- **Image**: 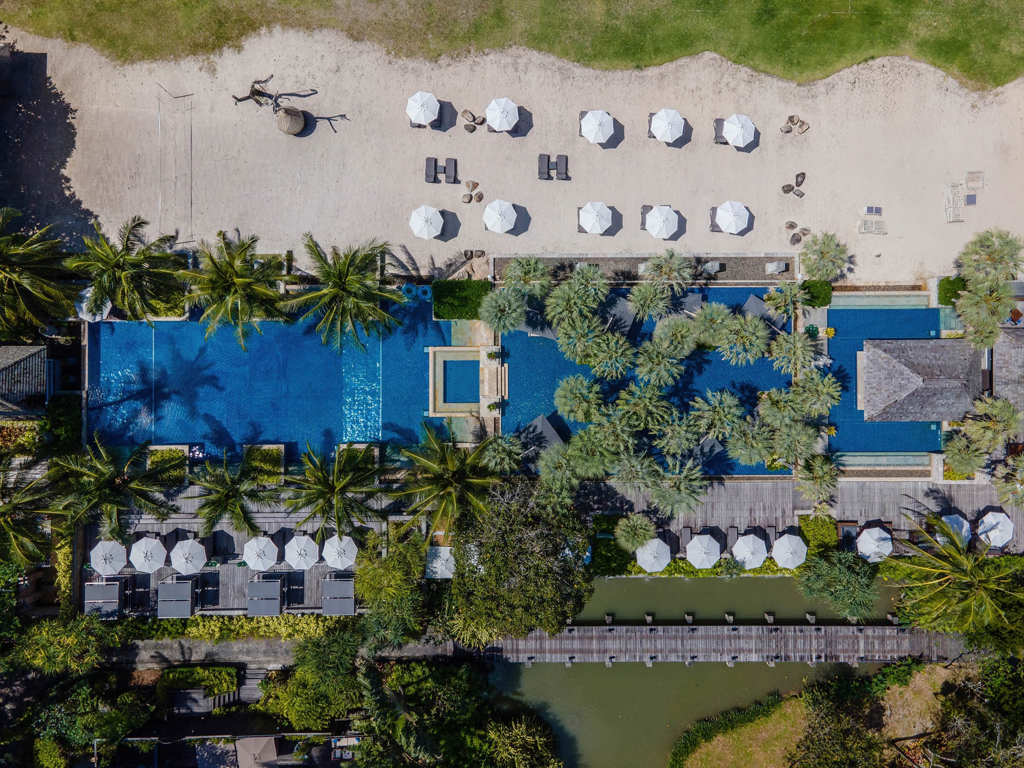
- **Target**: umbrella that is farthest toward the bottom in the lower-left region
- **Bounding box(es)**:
[235,734,280,768]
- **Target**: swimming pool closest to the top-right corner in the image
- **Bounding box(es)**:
[828,281,968,482]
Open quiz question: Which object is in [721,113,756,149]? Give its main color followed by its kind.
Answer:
white umbrella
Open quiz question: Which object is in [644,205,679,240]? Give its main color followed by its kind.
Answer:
white umbrella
